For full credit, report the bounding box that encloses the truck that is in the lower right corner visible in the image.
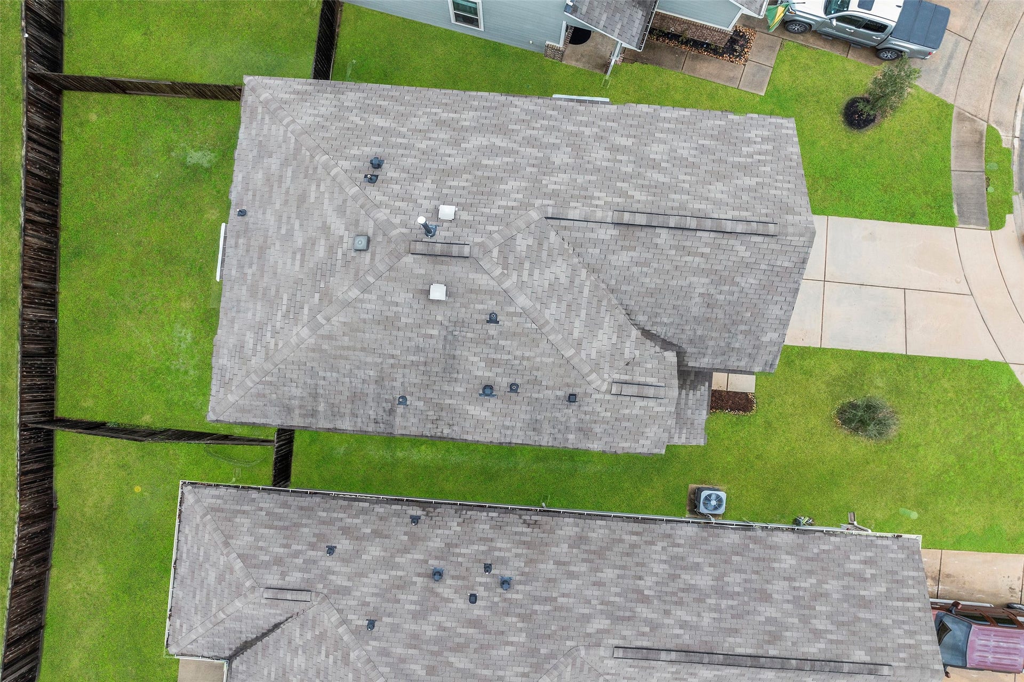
[930,592,1024,680]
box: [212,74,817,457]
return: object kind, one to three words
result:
house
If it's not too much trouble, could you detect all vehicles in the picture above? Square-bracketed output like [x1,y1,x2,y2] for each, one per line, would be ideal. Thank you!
[930,592,1024,680]
[774,0,951,63]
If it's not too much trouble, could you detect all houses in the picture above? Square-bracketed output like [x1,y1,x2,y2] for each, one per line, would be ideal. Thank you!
[166,481,948,682]
[212,74,817,457]
[343,0,771,92]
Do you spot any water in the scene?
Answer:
No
